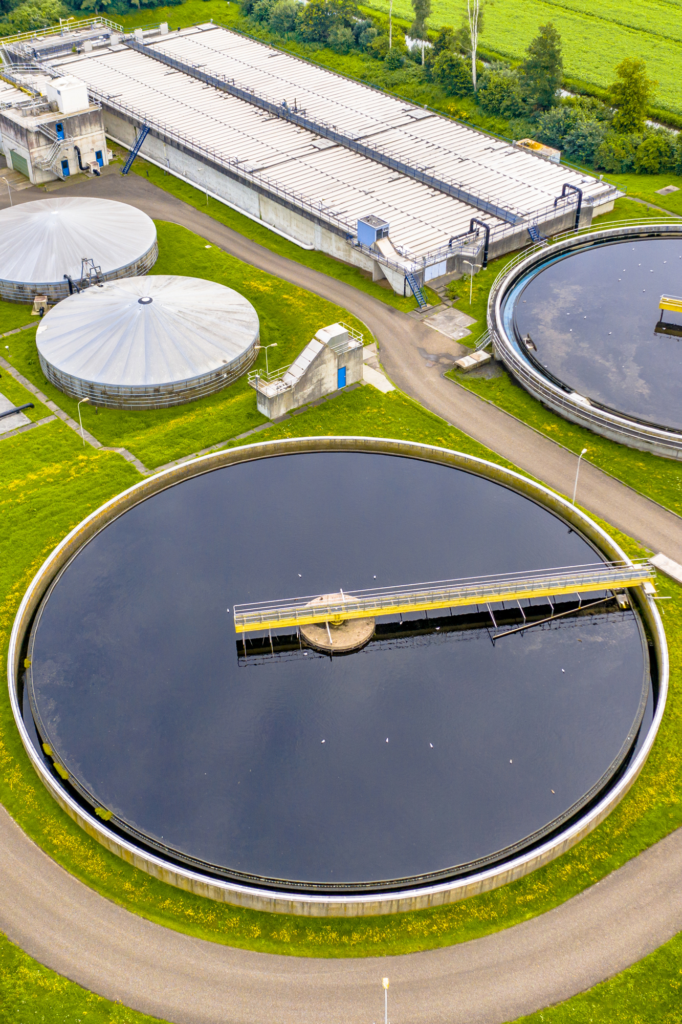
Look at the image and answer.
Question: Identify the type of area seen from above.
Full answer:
It's an industrial area.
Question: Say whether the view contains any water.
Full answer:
Yes, water can be seen from above here.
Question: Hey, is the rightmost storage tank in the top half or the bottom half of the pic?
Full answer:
Seen from above, the rightmost storage tank lies in the top half of the view.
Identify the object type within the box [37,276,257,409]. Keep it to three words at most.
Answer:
storage tank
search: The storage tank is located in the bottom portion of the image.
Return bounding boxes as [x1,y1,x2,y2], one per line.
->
[6,436,667,916]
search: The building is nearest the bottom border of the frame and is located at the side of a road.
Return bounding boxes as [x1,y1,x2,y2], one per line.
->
[243,321,364,419]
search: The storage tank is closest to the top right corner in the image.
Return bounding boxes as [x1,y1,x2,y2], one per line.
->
[487,220,682,462]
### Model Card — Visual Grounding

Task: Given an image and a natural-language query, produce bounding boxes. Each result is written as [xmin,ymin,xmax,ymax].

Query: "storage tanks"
[0,196,156,305]
[37,276,257,409]
[487,220,682,462]
[6,436,667,916]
